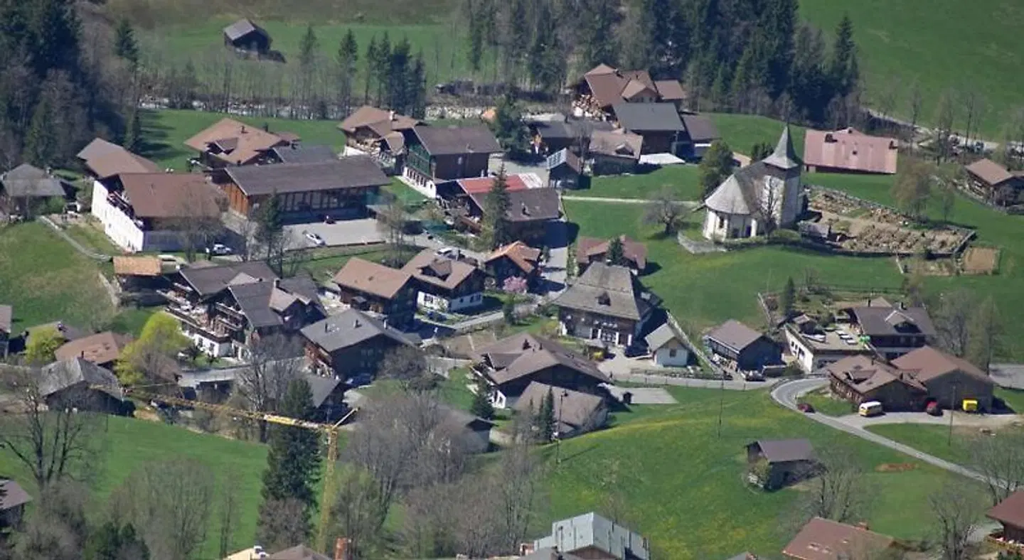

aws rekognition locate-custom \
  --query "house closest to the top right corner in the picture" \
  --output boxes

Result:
[965,158,1024,201]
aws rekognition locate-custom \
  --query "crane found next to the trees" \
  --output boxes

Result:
[125,387,360,560]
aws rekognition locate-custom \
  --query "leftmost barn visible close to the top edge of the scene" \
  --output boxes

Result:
[224,17,276,55]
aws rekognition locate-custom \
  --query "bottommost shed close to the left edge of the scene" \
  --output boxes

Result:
[0,480,32,526]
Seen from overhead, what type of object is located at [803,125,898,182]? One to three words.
barn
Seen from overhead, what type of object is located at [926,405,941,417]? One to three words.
vehicle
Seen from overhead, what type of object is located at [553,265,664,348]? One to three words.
house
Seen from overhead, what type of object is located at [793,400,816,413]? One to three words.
vehicle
